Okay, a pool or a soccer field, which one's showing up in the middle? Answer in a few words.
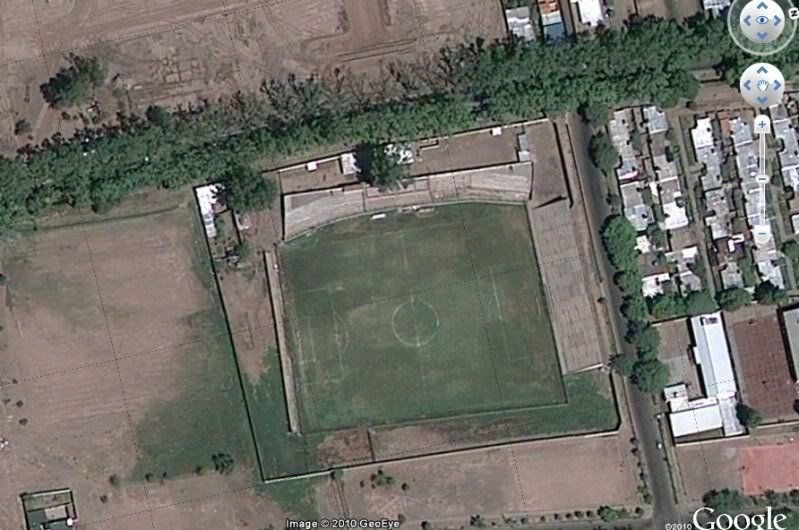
soccer field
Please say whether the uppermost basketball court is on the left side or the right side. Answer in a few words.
right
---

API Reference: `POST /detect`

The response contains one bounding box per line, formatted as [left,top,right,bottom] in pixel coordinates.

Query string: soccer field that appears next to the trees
[283,202,566,434]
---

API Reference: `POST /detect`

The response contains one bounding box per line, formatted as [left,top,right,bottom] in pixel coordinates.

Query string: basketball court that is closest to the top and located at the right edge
[731,316,799,425]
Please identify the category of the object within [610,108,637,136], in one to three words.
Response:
house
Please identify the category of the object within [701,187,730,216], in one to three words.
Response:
house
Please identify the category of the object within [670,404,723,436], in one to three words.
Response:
building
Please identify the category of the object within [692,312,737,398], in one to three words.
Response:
building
